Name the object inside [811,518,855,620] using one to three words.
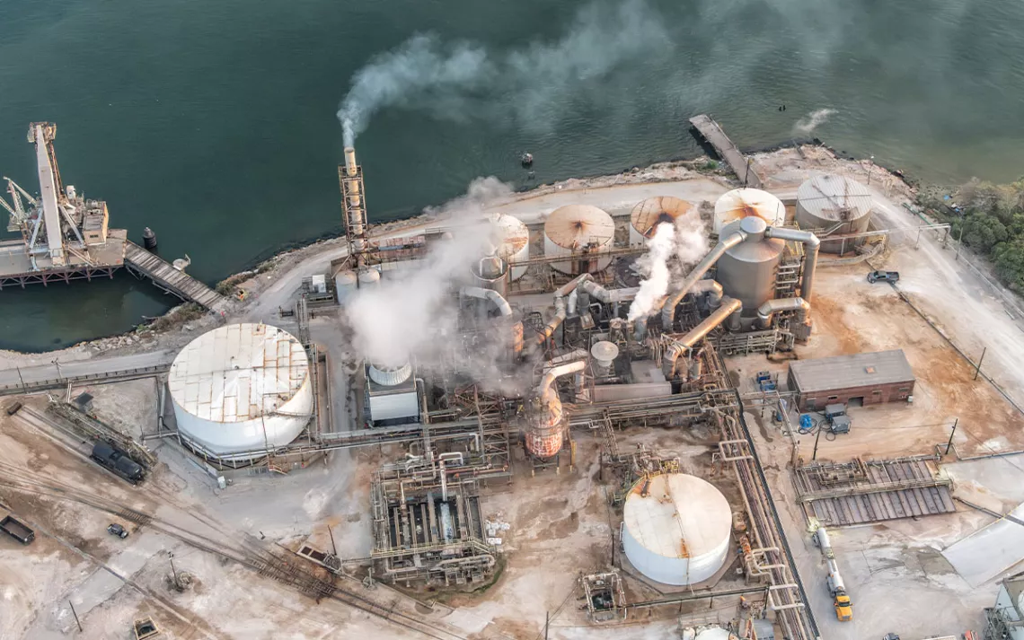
truck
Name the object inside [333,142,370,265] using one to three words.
chimney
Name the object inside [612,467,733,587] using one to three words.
storage tank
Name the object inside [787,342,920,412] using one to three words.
building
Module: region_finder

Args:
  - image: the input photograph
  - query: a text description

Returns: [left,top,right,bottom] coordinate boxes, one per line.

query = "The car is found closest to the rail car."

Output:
[102,516,132,540]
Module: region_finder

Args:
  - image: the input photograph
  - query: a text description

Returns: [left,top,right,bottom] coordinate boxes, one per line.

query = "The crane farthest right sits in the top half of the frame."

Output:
[21,124,110,270]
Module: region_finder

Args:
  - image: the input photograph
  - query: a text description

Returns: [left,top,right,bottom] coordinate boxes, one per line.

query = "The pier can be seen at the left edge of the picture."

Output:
[0,230,133,288]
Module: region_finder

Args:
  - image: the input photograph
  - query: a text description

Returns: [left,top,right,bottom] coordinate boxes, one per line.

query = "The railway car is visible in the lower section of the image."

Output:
[82,435,152,484]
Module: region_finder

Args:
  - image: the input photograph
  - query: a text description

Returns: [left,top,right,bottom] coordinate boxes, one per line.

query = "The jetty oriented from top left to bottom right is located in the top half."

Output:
[689,113,763,186]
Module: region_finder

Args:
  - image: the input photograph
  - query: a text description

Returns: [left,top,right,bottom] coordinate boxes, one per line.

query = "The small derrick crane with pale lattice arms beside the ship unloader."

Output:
[0,175,41,236]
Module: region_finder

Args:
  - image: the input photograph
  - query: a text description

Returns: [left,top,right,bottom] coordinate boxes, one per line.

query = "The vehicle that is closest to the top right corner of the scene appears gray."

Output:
[866,271,901,285]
